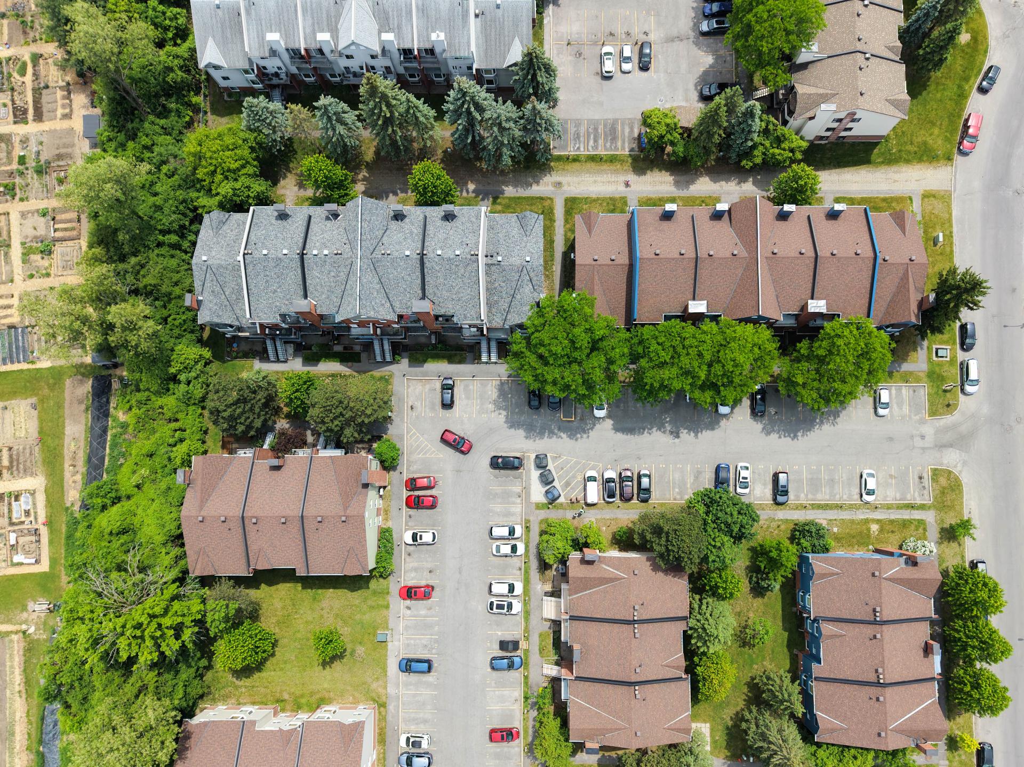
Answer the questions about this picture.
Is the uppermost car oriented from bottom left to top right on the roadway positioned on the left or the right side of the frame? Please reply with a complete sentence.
You can find the uppermost car oriented from bottom left to top right on the roadway on the right side of the picture.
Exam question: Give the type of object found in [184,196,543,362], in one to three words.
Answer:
house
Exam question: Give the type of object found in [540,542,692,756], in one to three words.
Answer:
building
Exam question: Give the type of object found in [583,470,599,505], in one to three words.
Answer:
vehicle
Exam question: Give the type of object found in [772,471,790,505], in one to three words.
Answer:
car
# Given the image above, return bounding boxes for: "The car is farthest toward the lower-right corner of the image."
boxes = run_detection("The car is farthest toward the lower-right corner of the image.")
[976,736,996,767]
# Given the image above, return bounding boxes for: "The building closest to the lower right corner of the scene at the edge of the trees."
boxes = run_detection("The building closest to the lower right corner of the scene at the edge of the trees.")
[795,542,948,758]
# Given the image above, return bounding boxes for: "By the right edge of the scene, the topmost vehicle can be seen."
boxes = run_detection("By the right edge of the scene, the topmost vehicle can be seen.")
[976,63,1003,94]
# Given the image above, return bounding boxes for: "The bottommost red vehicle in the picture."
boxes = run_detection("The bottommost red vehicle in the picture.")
[488,727,518,744]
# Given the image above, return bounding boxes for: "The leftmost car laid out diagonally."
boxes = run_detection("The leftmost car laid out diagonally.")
[439,428,473,454]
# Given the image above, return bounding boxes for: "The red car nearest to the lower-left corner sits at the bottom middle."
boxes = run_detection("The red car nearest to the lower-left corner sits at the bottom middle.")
[400,585,432,601]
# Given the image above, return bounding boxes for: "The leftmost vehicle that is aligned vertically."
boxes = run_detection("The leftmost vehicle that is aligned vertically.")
[440,377,455,409]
